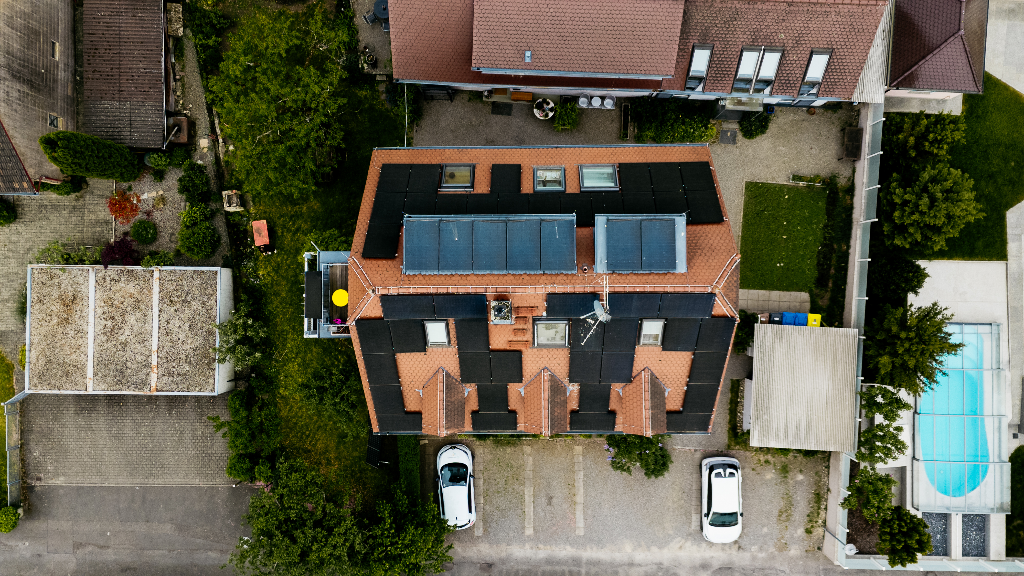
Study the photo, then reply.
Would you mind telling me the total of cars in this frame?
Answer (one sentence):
Altogether the scene contains 2 cars.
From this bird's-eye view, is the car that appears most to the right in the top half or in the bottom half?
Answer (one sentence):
The car that appears most to the right sits in the bottom half of the picture.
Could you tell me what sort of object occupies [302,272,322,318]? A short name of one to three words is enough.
solar panel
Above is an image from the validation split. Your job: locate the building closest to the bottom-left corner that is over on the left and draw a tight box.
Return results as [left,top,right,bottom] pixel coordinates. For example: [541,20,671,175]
[28,264,237,395]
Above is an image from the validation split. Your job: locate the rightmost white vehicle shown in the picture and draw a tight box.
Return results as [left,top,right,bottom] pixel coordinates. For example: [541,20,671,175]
[700,456,748,543]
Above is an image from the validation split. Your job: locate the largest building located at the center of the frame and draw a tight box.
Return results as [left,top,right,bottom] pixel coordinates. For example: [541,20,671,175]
[336,142,745,439]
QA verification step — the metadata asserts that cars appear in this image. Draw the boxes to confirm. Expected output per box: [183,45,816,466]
[700,456,748,543]
[435,443,478,531]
